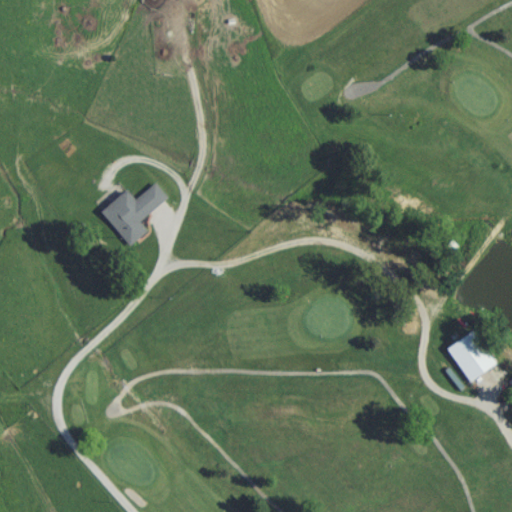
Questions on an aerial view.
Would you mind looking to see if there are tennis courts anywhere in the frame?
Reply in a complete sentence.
No, no tennis court is visible in the view.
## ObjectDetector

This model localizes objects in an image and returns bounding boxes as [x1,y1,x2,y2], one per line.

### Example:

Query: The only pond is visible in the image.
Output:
[460,242,512,326]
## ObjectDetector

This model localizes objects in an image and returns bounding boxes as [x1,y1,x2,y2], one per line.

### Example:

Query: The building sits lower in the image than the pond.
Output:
[448,328,500,382]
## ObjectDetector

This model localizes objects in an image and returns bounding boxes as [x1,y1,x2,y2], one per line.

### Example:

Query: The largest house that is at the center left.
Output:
[102,182,168,246]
